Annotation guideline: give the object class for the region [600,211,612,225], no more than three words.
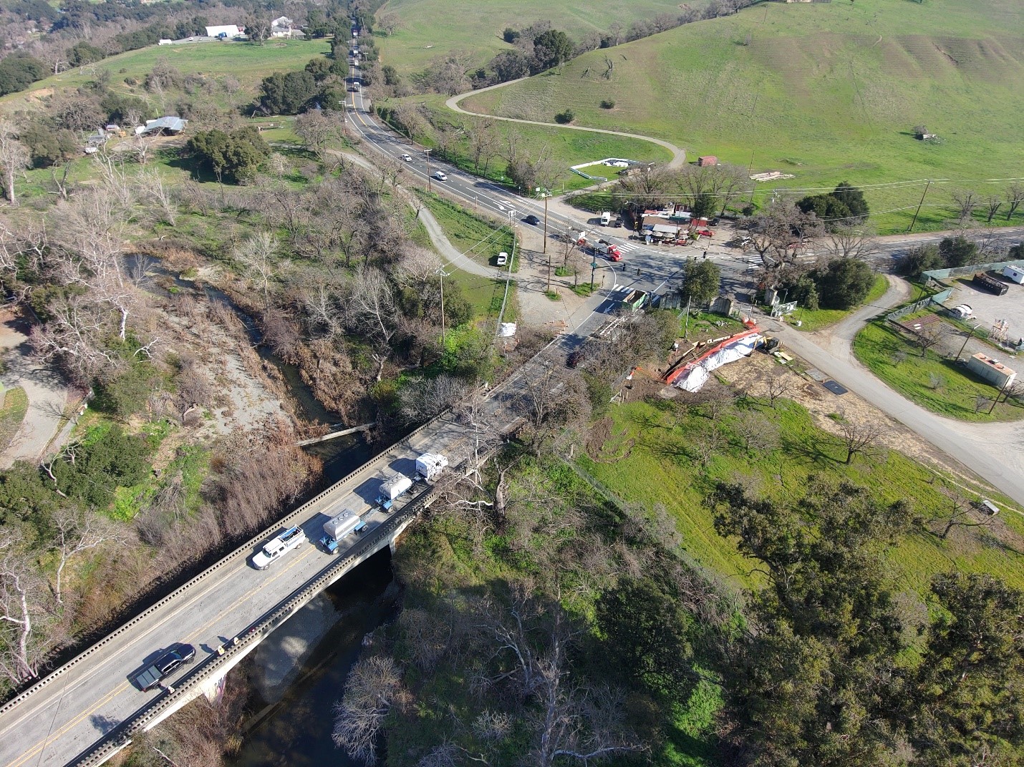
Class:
vehicle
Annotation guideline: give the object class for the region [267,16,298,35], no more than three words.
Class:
house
